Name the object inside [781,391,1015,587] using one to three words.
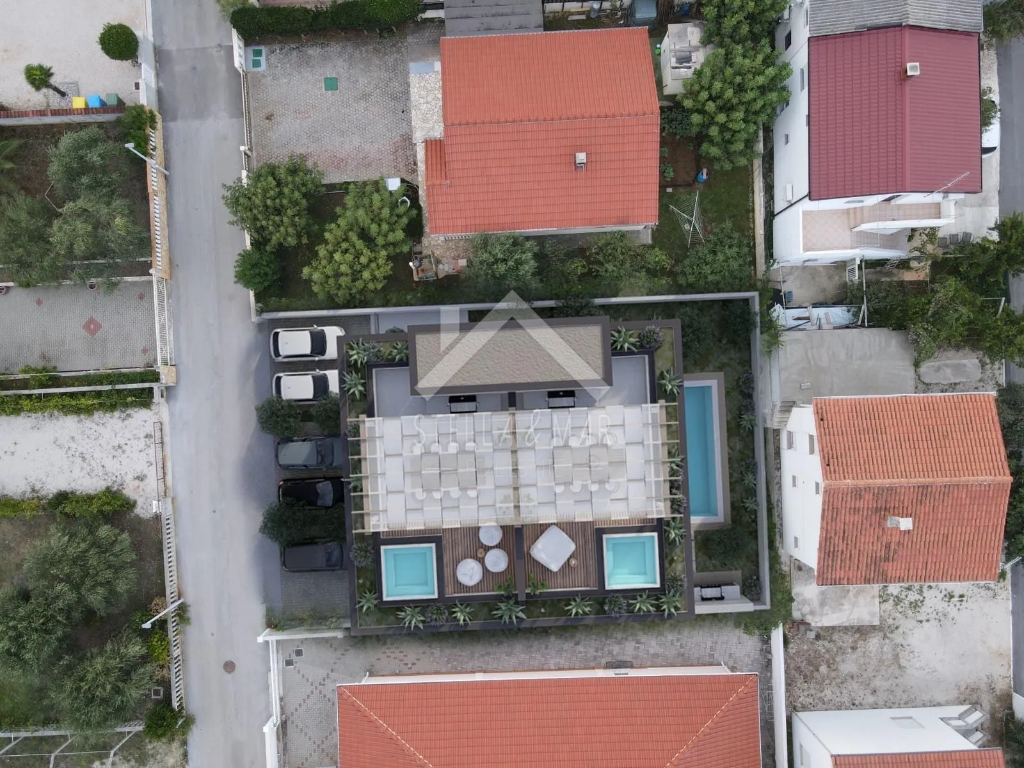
house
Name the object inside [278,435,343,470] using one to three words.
car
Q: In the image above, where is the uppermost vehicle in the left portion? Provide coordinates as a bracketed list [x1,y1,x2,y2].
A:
[273,325,347,361]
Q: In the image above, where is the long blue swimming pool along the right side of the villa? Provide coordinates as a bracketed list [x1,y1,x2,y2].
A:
[683,372,731,530]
